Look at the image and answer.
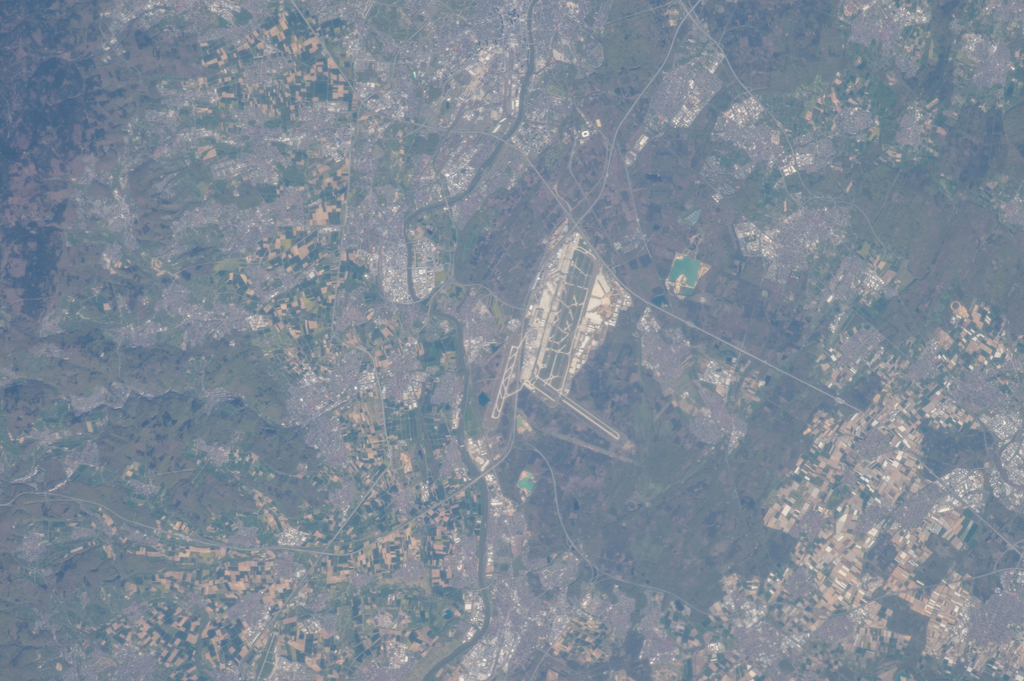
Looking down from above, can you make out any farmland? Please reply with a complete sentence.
Yes, some farmland is visible.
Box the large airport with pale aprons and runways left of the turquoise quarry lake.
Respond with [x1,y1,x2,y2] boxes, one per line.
[484,225,633,442]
